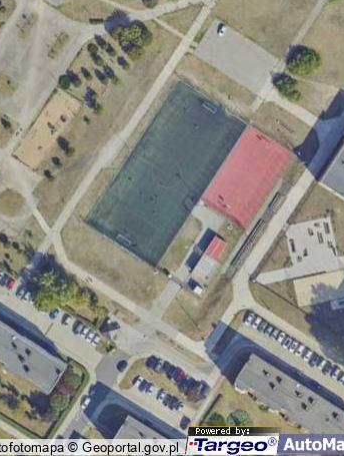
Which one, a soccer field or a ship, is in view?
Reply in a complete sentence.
Looking from above, you can make out a soccer field.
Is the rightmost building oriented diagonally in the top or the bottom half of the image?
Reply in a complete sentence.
The rightmost building oriented diagonally sits in the bottom half of the picture.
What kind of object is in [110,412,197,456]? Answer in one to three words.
building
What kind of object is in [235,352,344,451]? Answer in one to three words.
building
